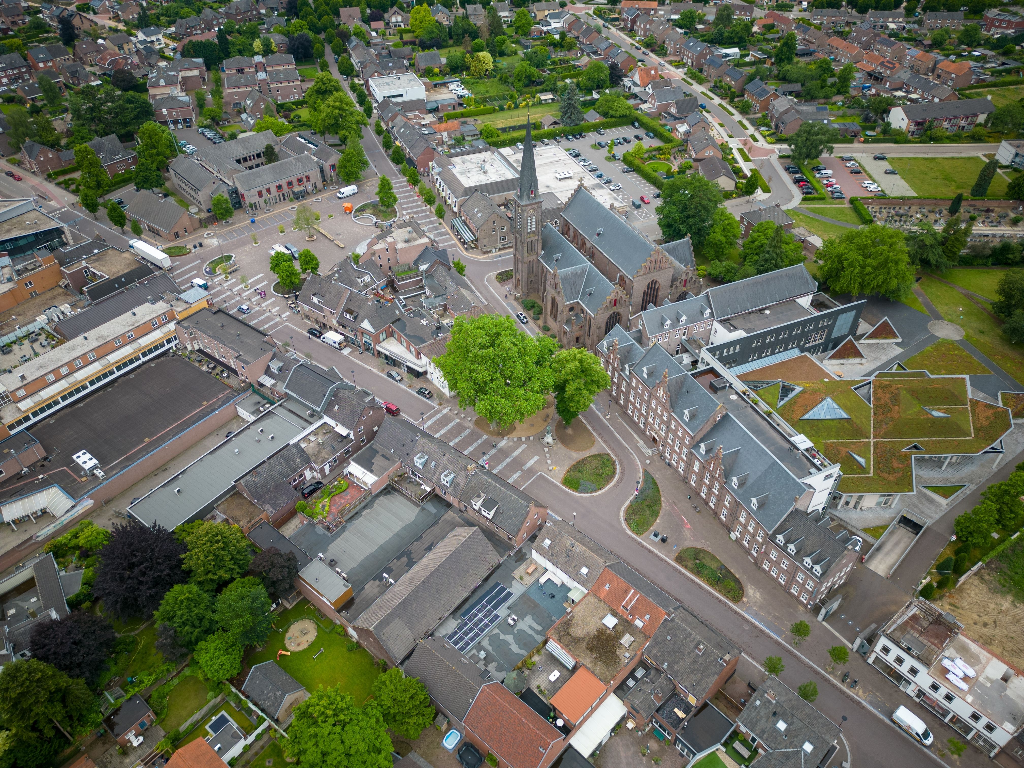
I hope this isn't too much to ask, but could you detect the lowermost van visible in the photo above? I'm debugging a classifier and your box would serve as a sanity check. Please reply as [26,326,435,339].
[885,703,935,749]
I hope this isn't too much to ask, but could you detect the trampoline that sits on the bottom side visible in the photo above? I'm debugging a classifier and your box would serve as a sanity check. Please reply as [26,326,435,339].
[453,737,484,768]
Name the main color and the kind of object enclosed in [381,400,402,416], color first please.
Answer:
red car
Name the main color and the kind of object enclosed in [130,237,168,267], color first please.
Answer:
white truck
